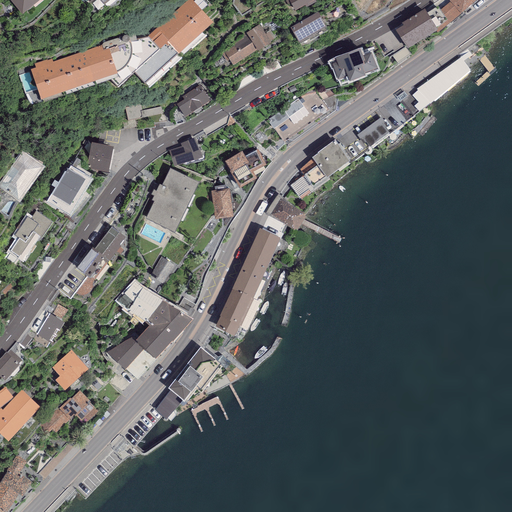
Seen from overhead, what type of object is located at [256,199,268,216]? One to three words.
vehicle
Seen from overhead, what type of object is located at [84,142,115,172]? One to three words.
house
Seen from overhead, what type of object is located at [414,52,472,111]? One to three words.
building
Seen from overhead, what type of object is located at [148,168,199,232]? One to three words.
house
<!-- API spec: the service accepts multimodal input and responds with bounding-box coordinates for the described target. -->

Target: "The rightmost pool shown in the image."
[140,222,168,245]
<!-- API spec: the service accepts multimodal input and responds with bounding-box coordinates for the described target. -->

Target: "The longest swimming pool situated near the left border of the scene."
[18,69,42,104]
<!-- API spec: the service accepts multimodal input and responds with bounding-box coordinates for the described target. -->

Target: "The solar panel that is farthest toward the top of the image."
[296,18,326,40]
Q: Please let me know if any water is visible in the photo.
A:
Yes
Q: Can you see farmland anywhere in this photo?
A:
No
